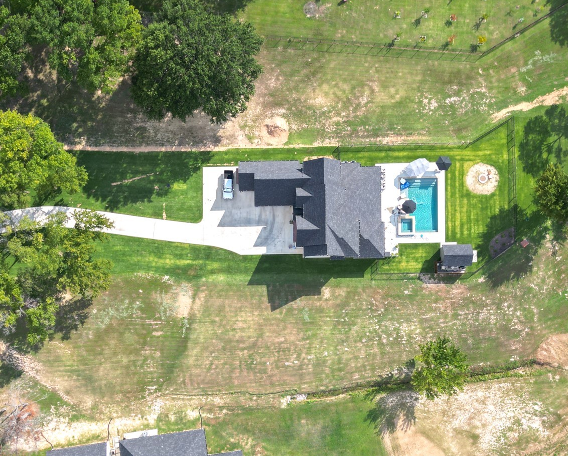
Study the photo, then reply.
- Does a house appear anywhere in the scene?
Yes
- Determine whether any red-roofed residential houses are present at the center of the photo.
No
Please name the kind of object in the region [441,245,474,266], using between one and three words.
shed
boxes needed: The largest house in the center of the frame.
[237,157,387,261]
